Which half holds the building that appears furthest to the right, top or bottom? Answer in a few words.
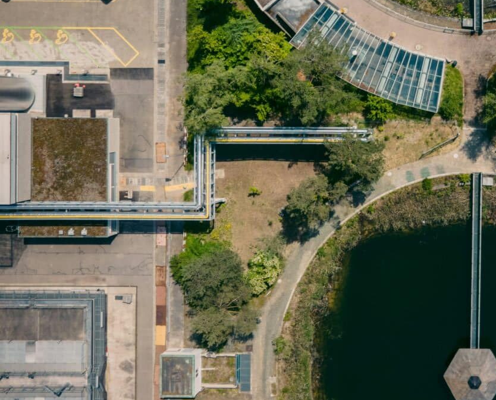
bottom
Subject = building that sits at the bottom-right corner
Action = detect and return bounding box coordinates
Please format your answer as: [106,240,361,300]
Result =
[444,346,496,400]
